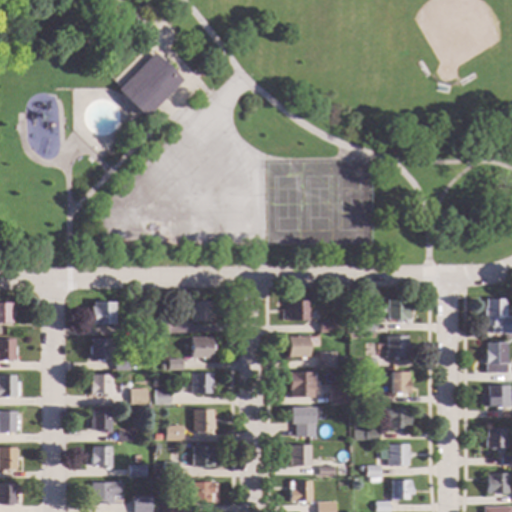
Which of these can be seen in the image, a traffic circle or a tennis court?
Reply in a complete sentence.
It is a tennis court that can be seen here.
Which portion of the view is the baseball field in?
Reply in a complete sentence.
The baseball field is in the top right part of the image.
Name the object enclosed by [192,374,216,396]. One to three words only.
house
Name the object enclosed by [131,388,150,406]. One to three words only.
building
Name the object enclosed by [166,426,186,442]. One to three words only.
building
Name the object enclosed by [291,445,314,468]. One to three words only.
house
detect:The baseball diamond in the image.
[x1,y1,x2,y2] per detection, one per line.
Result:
[414,0,502,82]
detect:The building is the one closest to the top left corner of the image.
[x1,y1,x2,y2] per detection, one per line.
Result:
[121,54,180,111]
